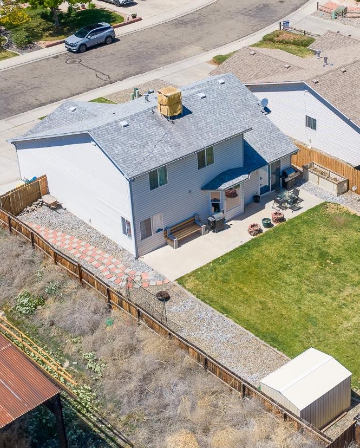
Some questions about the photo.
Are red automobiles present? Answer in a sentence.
No, no red automobile can be seen from above.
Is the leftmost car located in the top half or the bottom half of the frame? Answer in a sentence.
It is in the top half that the leftmost car appears.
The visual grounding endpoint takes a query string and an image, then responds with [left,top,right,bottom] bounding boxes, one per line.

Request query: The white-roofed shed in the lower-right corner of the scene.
[261,350,350,436]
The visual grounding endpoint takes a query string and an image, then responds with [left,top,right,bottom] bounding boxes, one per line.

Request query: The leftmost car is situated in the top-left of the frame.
[65,24,115,52]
